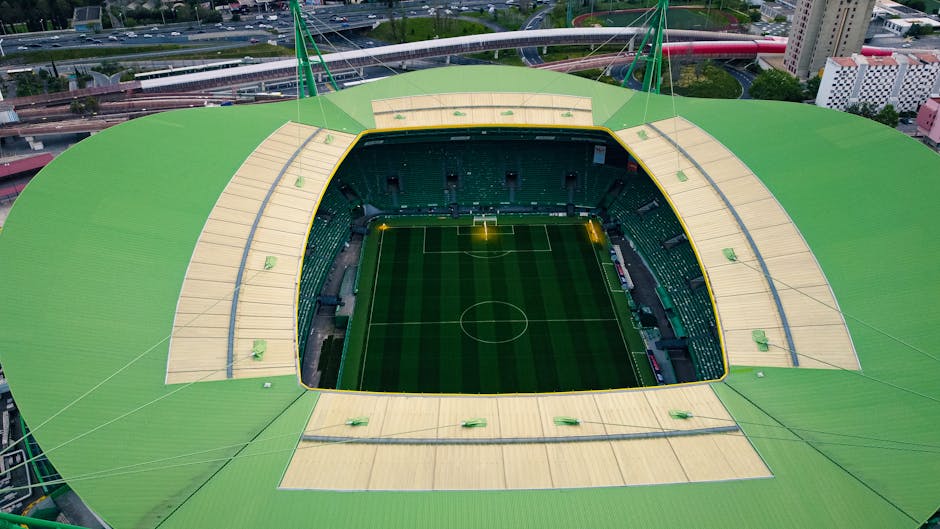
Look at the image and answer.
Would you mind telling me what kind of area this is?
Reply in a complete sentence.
This looks like a sports ground.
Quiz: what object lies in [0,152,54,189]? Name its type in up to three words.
shed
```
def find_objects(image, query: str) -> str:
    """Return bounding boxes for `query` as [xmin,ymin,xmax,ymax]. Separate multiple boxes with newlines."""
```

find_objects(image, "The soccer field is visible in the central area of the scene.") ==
[357,222,644,397]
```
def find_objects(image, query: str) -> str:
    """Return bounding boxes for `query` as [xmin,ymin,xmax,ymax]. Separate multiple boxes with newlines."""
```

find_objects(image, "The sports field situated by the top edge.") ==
[573,6,751,50]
